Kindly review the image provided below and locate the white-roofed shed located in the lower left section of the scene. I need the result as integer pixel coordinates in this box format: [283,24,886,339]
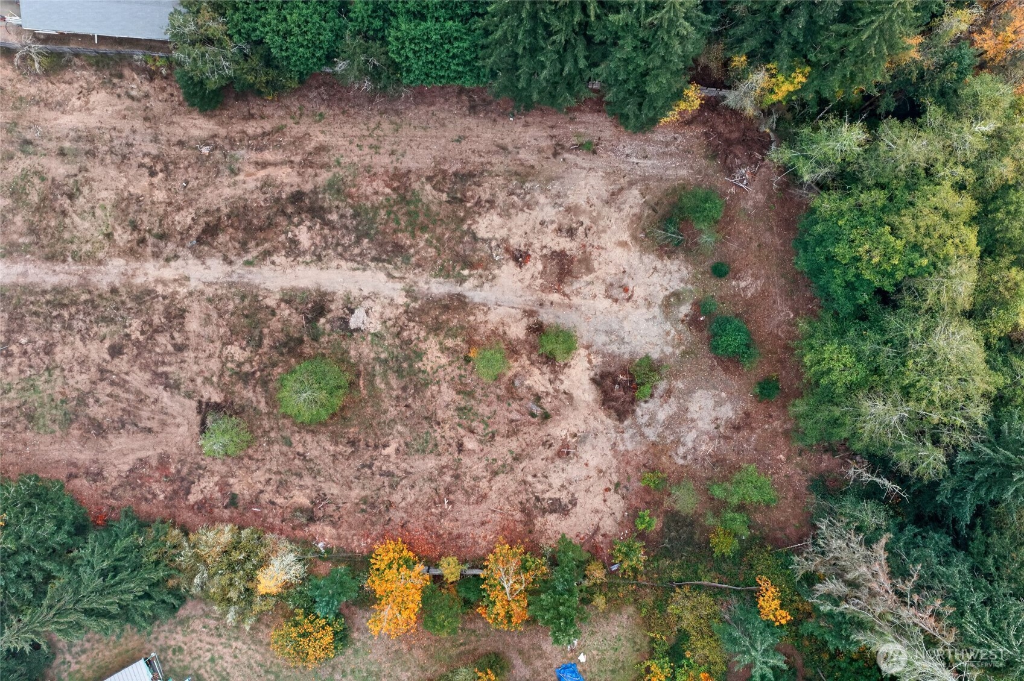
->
[102,641,179,681]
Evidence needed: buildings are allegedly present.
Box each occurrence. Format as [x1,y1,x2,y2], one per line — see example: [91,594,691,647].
[102,641,179,681]
[19,0,193,46]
